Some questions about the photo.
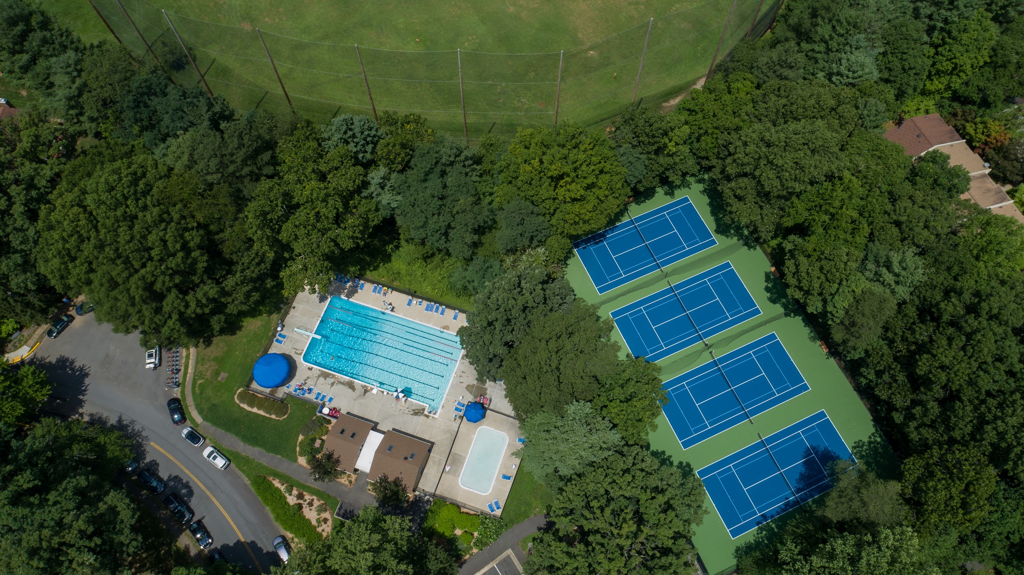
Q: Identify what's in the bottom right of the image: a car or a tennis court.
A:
tennis court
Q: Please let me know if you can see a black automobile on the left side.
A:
Yes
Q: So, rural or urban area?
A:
rural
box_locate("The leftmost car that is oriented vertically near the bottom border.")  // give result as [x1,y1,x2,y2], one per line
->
[273,532,289,564]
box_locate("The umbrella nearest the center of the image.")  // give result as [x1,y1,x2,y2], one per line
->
[463,403,485,425]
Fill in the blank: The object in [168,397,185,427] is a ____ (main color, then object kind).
black car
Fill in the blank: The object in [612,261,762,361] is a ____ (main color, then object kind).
blue tennis court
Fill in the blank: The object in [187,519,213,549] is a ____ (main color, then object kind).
black car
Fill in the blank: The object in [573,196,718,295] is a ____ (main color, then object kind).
blue tennis court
